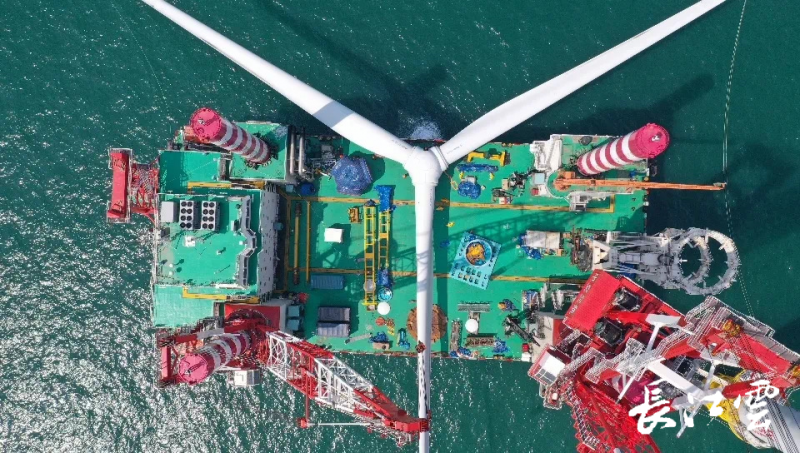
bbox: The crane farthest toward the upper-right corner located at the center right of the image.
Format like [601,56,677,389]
[546,171,731,195]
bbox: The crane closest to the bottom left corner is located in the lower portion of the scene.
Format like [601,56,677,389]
[152,305,438,444]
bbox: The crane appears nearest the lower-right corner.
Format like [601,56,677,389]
[527,269,800,453]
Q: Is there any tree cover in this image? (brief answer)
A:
No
